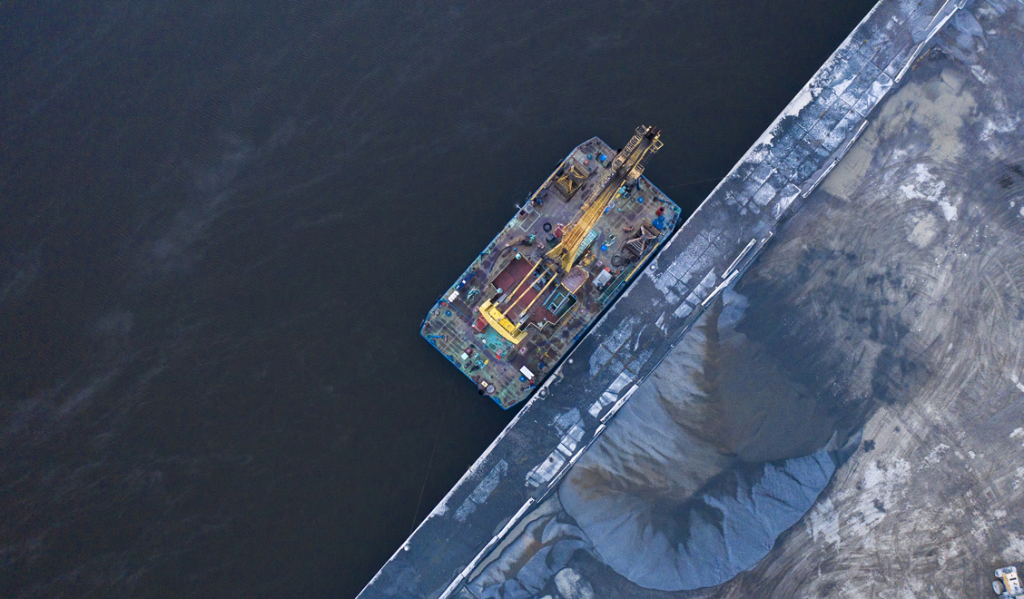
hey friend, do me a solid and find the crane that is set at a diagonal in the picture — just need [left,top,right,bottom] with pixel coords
[479,125,664,344]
